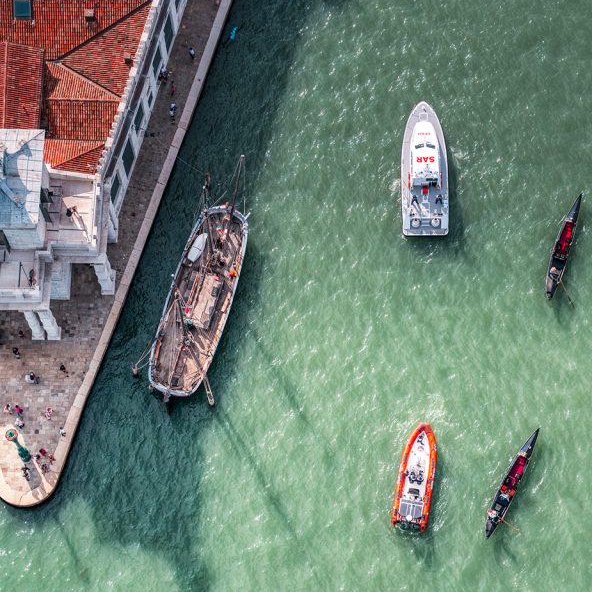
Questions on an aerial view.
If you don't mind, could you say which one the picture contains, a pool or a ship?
ship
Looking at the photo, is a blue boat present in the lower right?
No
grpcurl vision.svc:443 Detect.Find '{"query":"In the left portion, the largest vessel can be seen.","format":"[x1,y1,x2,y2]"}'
[148,154,256,410]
